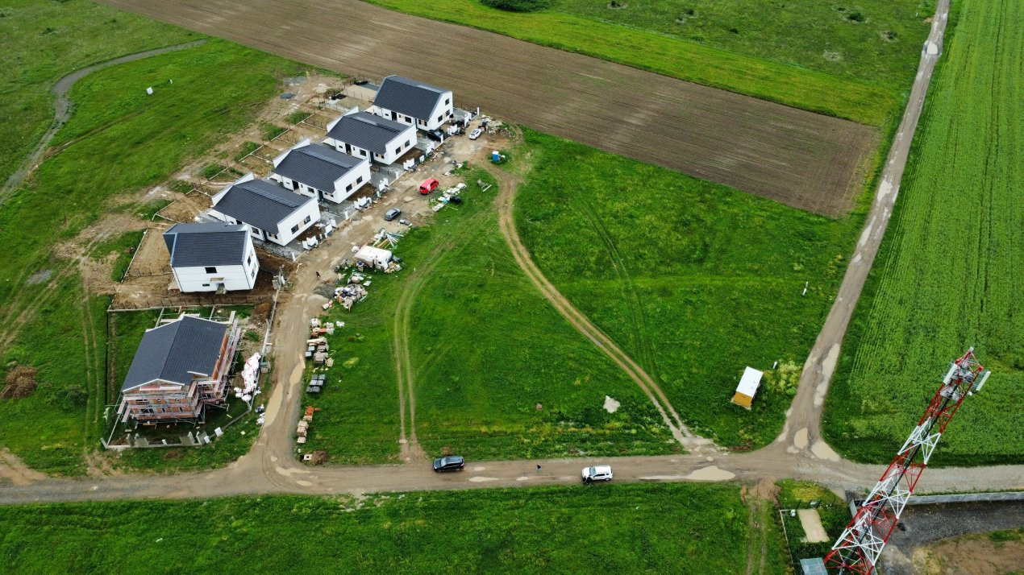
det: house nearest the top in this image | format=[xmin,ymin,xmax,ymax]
[368,76,453,130]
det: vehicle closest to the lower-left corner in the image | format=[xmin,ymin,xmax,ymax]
[432,457,466,473]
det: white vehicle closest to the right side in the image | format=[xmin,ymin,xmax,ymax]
[582,467,614,483]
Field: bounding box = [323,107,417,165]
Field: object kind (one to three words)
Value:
house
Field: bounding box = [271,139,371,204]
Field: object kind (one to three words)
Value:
house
